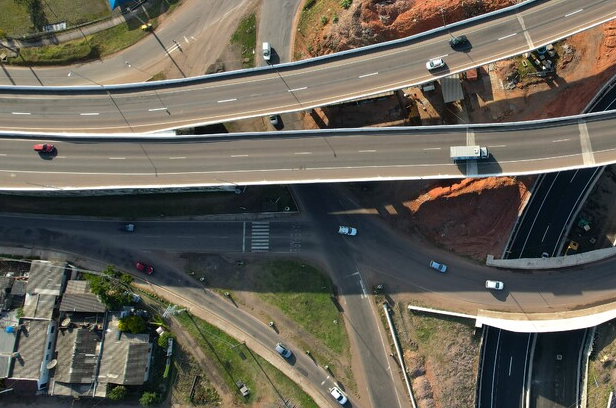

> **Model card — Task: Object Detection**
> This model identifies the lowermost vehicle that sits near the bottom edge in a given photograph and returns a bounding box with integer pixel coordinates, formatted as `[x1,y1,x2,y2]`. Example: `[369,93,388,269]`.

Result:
[329,386,348,405]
